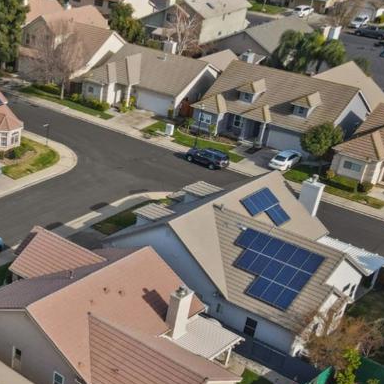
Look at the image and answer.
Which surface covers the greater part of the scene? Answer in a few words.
buildings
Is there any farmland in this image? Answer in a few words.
No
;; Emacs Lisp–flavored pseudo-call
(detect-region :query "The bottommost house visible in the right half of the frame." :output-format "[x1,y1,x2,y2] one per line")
[100,172,361,363]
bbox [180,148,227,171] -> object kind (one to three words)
car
